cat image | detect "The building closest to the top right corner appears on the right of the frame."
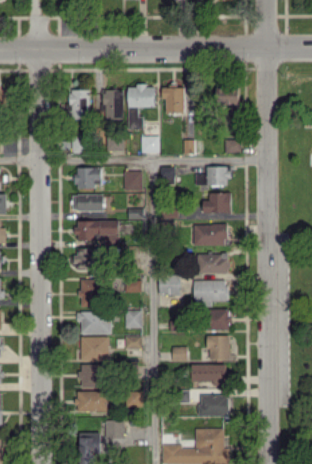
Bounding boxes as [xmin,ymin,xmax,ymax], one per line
[216,84,240,106]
